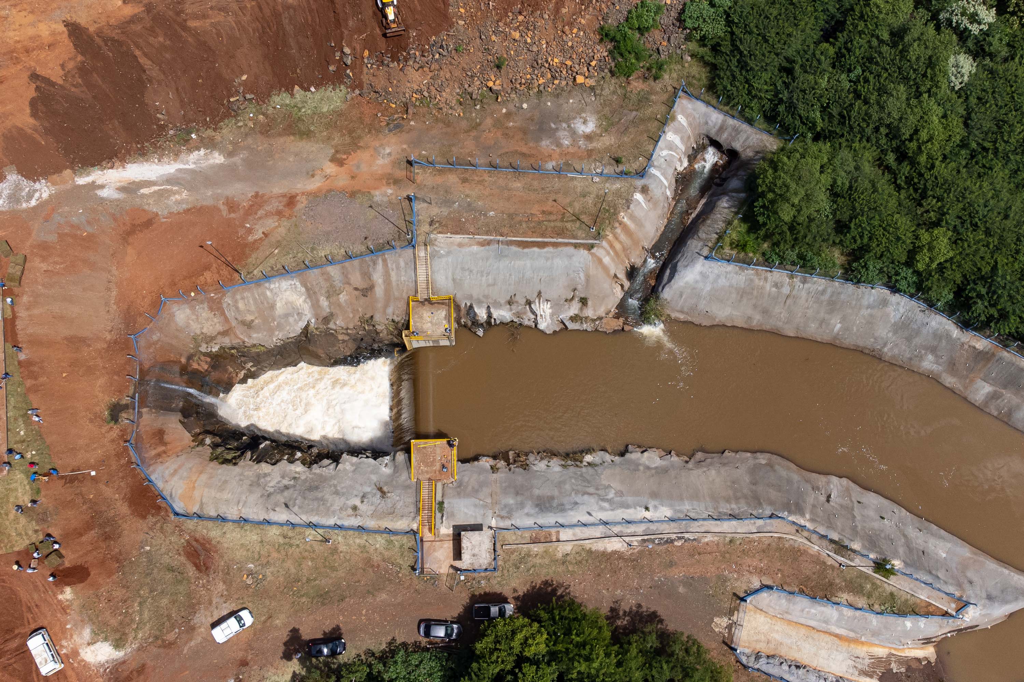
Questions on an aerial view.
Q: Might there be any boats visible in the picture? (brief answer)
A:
No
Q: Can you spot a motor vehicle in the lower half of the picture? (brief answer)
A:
Yes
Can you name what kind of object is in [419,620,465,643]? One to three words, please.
car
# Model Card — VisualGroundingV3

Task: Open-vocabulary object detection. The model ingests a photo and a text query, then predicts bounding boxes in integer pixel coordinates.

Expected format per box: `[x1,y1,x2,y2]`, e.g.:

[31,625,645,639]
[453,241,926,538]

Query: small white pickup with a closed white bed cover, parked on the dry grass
[210,608,257,646]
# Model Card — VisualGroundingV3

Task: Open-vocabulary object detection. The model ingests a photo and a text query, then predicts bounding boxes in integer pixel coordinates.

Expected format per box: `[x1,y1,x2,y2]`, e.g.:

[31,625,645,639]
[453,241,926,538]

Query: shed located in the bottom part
[461,531,494,568]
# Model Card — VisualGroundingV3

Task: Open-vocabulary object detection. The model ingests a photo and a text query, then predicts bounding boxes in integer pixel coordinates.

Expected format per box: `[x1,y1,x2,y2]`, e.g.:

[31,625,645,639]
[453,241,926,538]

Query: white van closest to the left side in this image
[26,627,65,679]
